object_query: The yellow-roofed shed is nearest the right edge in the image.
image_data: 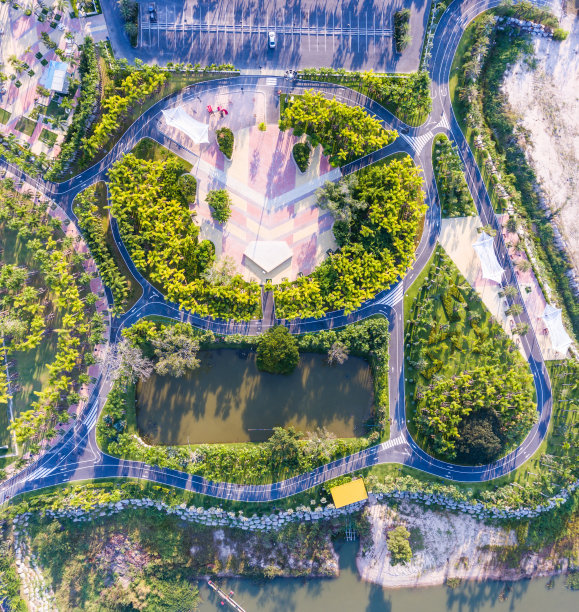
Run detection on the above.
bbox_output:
[330,476,368,508]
